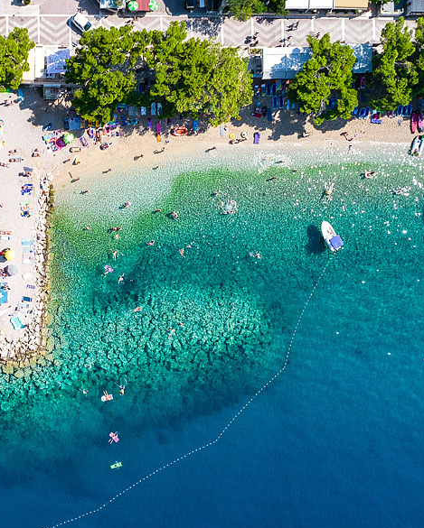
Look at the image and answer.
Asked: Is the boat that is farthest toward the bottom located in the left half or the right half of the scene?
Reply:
right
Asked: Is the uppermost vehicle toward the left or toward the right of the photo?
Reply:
left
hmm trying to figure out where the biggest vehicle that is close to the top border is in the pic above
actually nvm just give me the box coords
[68,4,93,34]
